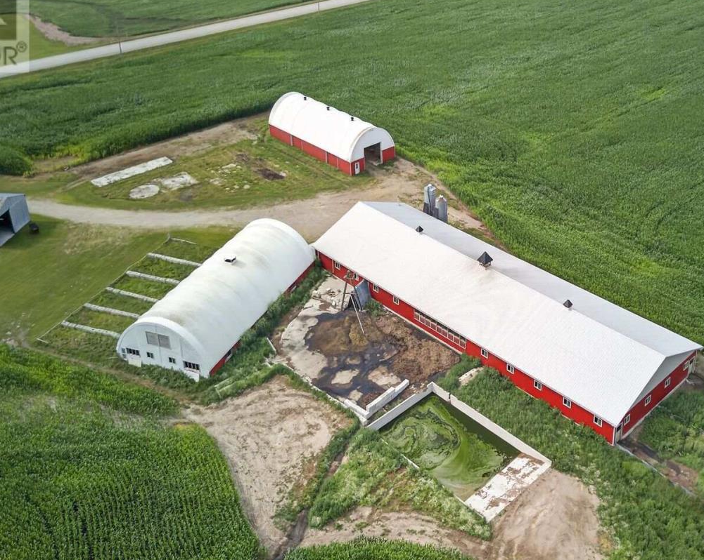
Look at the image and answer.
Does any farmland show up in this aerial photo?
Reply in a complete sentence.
Yes, some farmland is visible.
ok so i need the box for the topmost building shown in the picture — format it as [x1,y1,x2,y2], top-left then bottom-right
[268,91,395,175]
